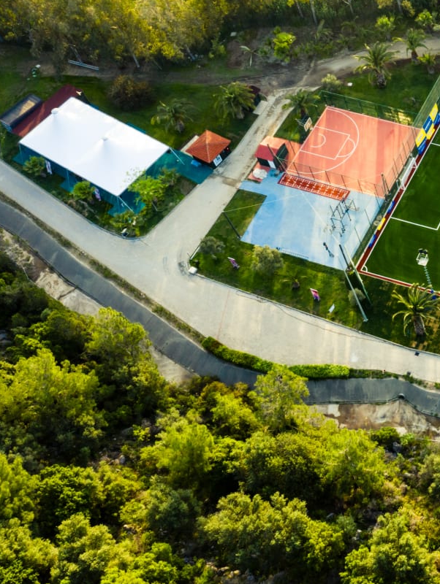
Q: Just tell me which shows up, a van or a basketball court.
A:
basketball court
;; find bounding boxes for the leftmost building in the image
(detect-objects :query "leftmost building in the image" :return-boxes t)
[0,95,44,143]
